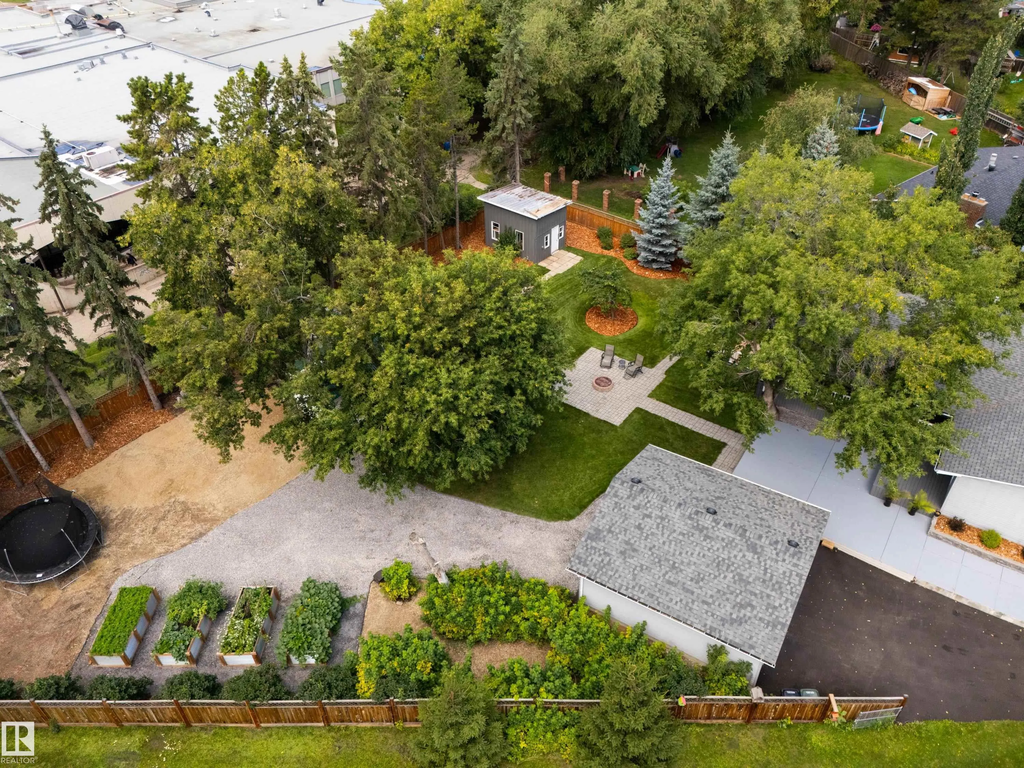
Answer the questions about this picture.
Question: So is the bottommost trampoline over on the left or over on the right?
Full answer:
It is on the left.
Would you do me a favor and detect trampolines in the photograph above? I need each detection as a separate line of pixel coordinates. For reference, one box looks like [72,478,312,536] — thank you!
[0,476,107,593]
[840,99,889,134]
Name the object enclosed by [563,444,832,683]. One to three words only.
building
